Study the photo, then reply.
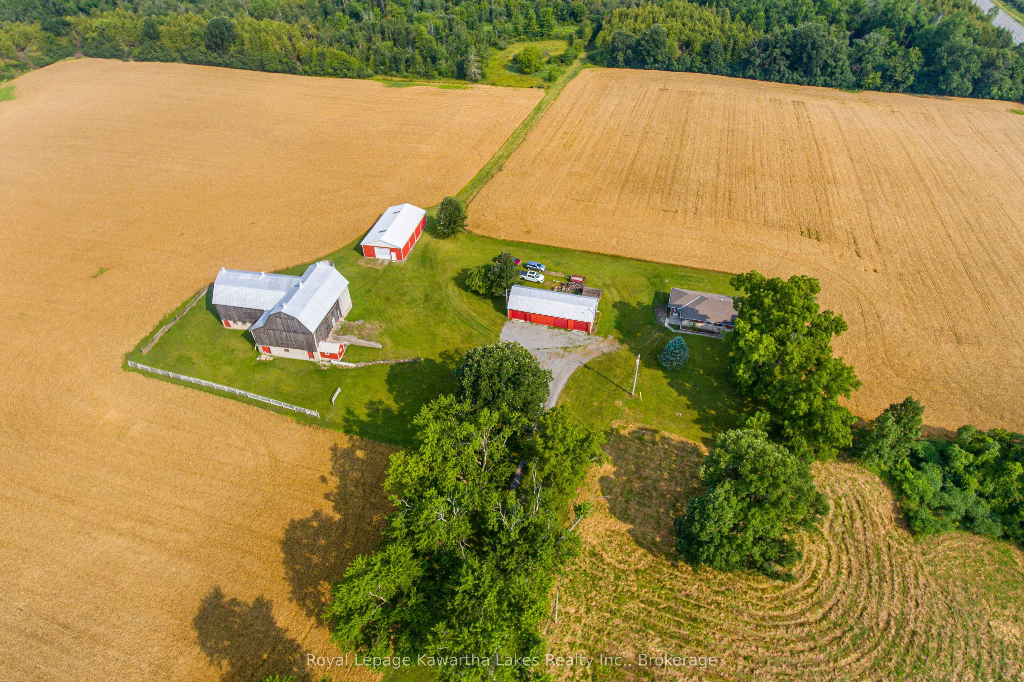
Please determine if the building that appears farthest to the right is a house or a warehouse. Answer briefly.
house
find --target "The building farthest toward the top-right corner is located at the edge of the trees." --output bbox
[668,287,745,336]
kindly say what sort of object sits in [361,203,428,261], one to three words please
shed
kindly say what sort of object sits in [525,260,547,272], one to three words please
vehicle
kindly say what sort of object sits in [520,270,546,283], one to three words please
vehicle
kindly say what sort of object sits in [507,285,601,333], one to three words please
building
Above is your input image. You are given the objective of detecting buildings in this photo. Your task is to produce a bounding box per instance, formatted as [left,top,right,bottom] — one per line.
[668,287,745,336]
[213,262,352,362]
[507,285,601,333]
[361,203,428,261]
